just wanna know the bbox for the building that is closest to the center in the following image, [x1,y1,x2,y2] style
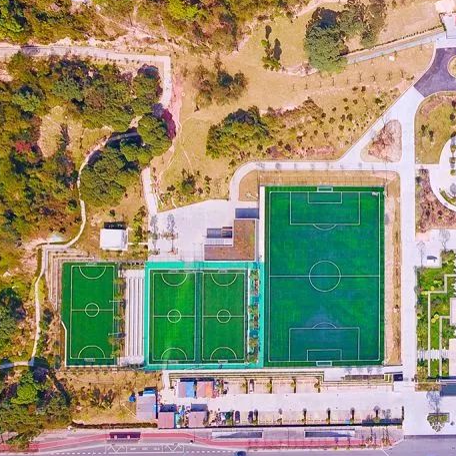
[204,220,257,261]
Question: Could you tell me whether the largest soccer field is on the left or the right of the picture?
right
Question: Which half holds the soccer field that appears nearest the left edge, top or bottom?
bottom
